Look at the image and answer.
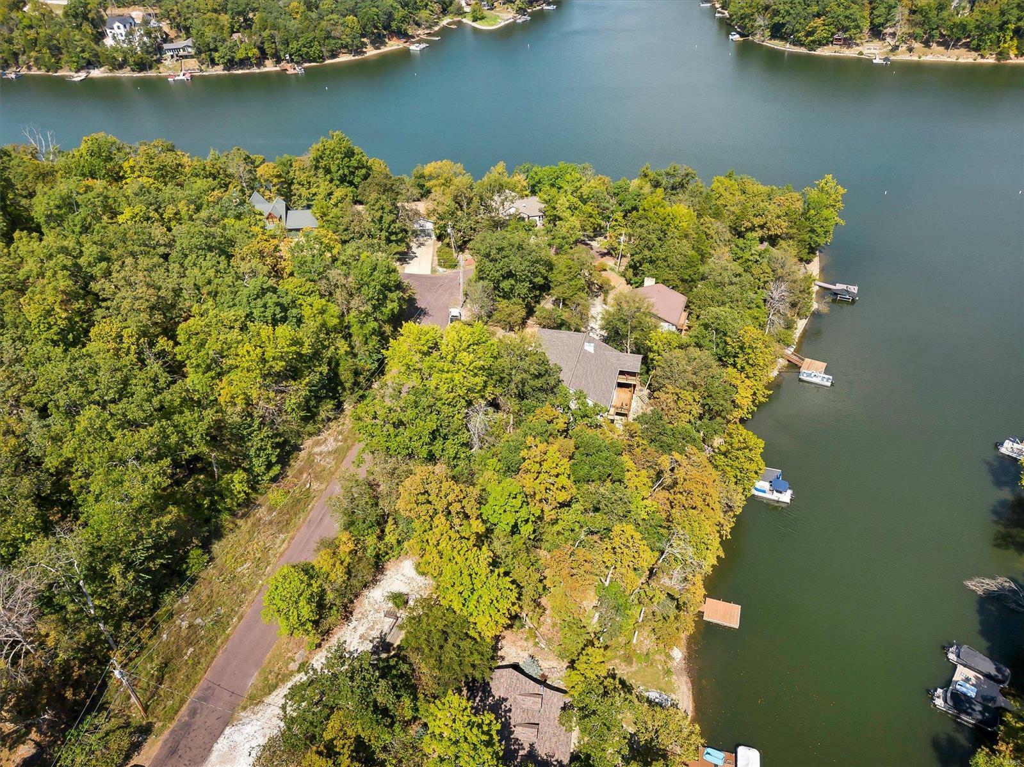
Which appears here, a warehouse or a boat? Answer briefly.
boat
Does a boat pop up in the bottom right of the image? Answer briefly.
Yes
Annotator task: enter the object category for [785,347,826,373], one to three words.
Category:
pier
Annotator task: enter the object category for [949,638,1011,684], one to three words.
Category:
boat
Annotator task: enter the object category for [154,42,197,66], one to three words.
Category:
house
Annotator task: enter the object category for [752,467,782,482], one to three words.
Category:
pier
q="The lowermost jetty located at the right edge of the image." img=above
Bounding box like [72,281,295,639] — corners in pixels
[951,665,1014,708]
